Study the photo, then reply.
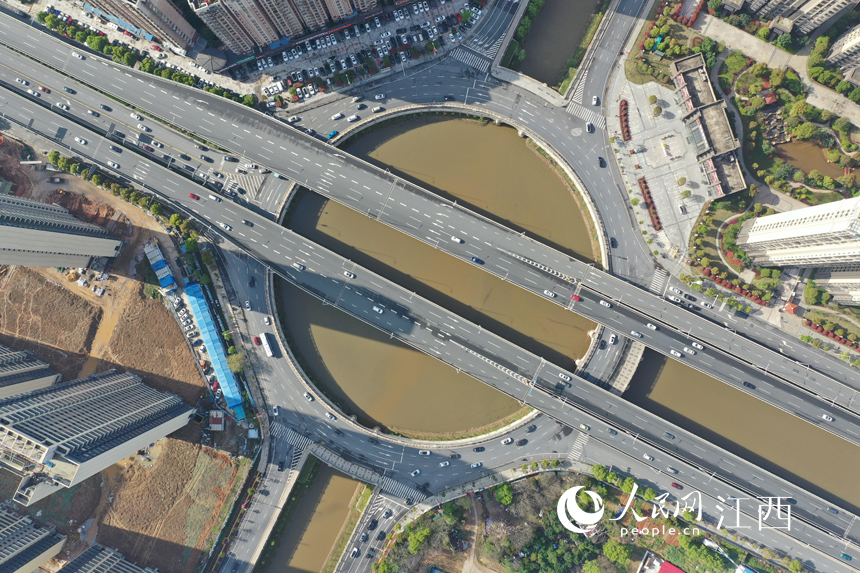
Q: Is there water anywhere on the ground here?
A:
Yes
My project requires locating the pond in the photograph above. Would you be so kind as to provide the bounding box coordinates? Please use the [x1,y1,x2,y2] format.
[773,139,860,179]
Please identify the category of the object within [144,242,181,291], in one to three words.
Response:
shed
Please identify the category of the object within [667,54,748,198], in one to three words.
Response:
building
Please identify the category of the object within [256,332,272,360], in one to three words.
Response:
vehicle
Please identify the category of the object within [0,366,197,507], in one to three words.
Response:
building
